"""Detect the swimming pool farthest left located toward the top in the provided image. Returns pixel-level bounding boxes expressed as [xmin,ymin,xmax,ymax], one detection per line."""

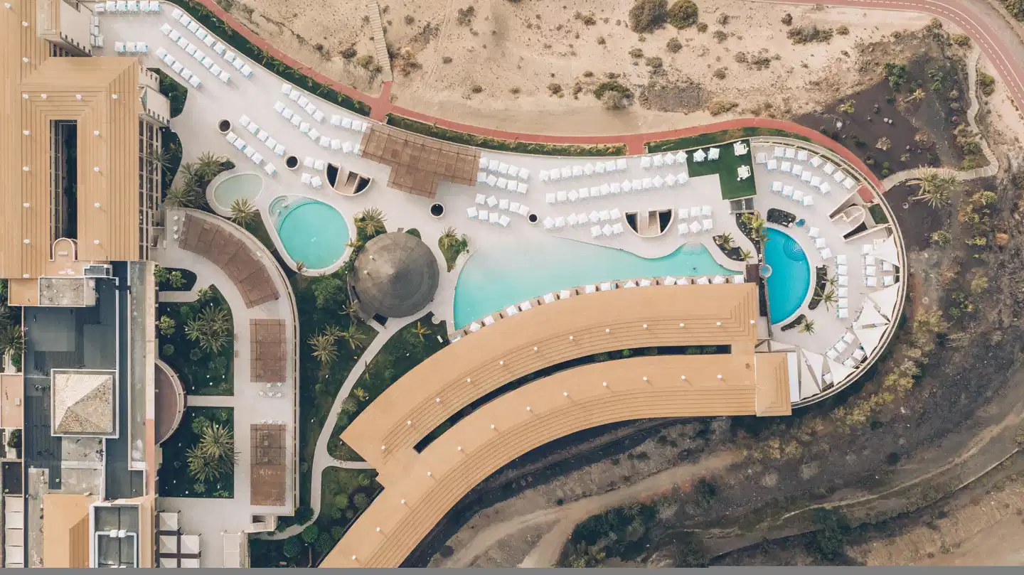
[211,171,265,212]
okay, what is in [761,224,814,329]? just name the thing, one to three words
swimming pool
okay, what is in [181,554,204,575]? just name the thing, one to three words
tent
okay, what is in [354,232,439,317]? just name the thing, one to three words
shed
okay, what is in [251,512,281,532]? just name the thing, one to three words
house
